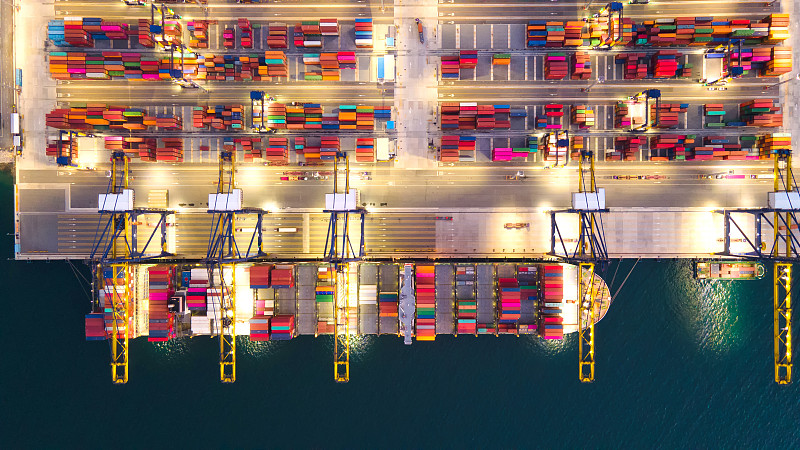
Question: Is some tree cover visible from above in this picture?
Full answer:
No, tree cover can't be seen anywhere here.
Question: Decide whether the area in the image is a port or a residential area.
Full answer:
It's a port.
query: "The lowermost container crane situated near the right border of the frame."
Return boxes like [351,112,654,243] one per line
[712,151,800,384]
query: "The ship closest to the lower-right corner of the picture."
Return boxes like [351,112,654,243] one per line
[694,261,766,280]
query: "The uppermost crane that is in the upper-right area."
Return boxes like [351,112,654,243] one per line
[594,0,623,54]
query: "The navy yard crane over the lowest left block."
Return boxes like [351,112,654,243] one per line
[57,129,94,172]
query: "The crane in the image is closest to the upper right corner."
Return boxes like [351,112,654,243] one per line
[706,39,743,88]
